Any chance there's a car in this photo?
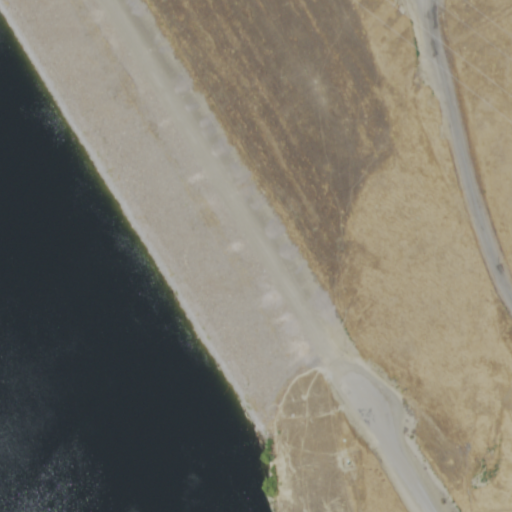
No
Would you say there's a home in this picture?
No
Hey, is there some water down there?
Yes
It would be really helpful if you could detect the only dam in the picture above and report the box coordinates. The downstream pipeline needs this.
[0,0,420,425]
